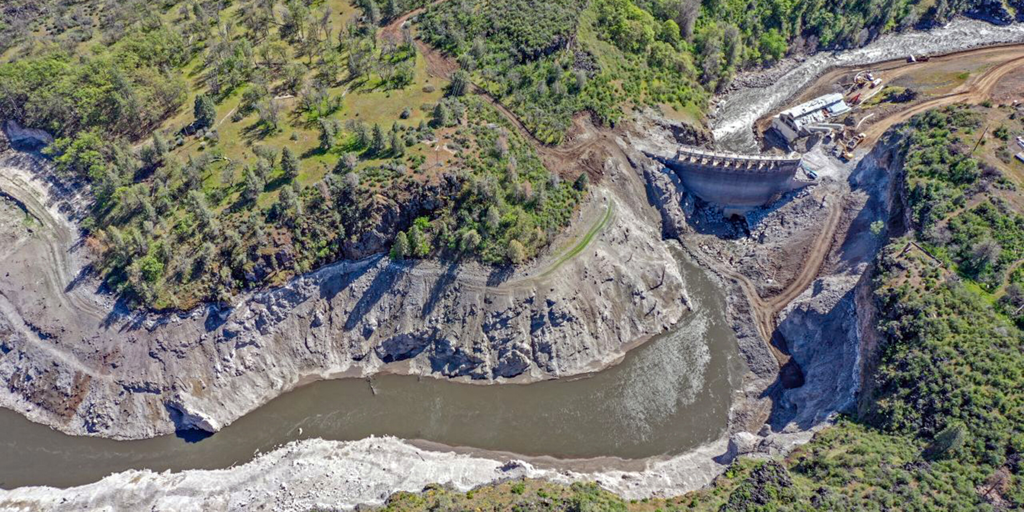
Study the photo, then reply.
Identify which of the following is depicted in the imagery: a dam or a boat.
dam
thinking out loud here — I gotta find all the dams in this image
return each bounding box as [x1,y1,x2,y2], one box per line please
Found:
[669,145,815,221]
